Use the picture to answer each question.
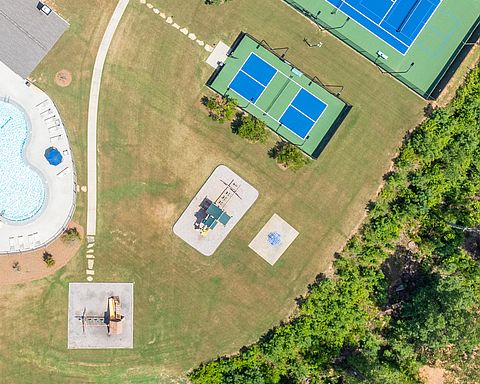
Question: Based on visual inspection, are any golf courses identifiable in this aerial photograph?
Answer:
No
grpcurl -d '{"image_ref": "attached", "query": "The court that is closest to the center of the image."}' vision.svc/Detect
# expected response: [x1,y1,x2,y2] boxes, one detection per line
[209,37,351,156]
